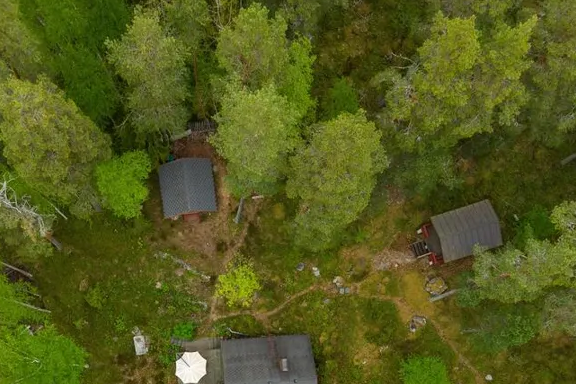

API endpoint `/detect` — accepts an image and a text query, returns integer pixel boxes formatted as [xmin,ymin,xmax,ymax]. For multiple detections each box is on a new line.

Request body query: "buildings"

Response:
[406,199,503,266]
[221,333,318,384]
[160,158,217,225]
